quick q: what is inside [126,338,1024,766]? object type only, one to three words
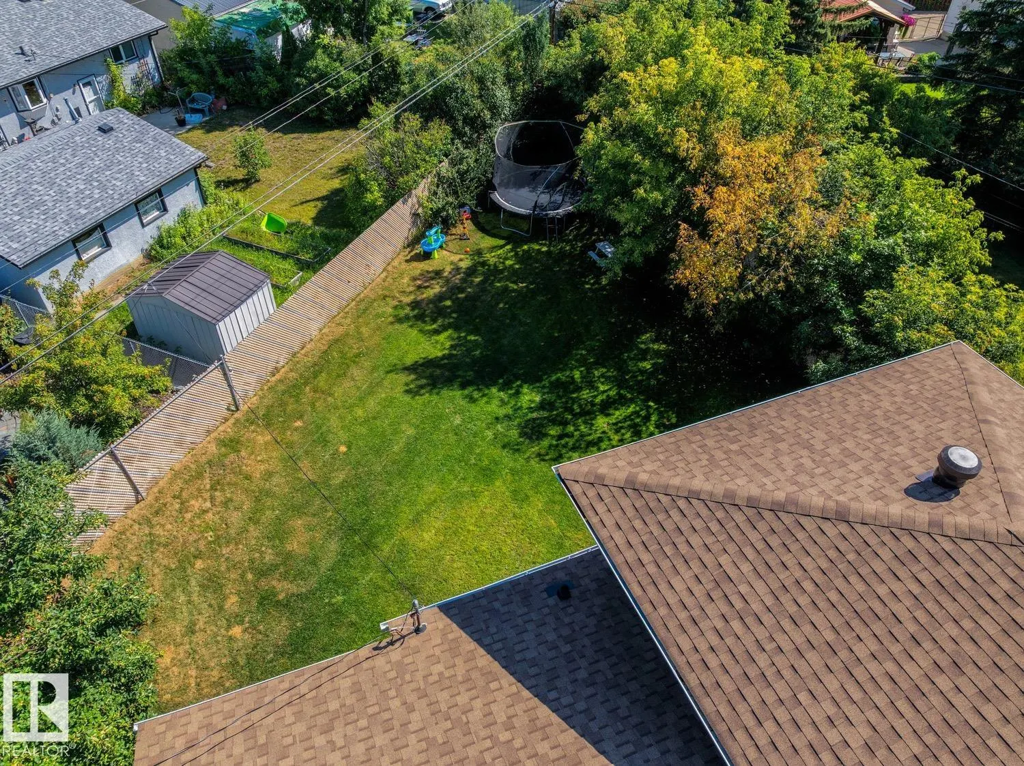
house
